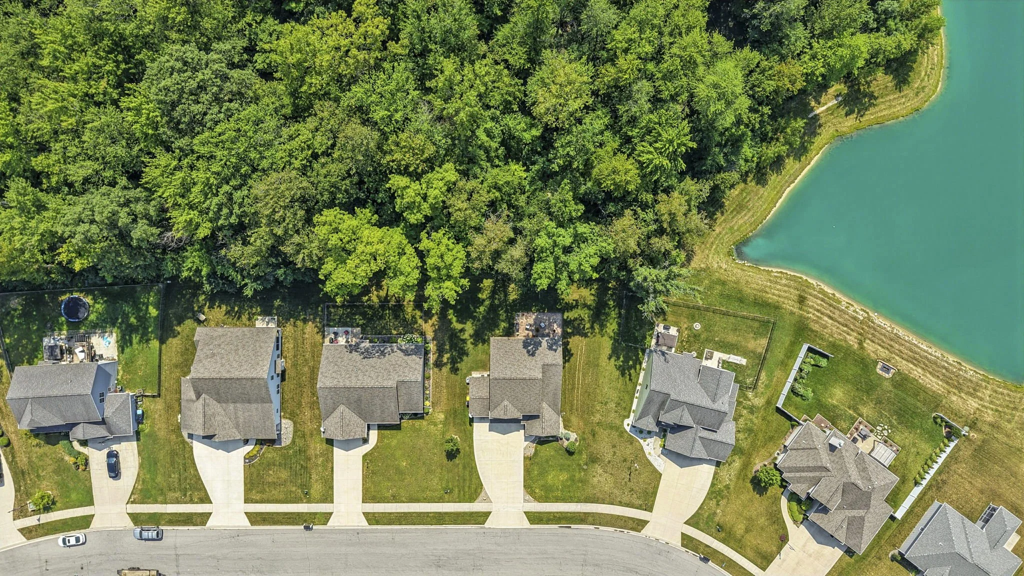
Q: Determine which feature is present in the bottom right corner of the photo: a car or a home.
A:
home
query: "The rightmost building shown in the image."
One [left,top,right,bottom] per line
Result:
[899,501,1023,576]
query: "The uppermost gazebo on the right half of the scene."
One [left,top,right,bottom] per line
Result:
[654,332,677,348]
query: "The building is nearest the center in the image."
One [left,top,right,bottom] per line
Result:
[469,337,562,437]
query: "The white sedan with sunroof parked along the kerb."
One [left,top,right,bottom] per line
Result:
[59,532,89,548]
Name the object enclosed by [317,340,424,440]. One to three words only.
house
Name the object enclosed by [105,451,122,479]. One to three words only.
car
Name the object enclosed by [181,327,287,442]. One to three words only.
house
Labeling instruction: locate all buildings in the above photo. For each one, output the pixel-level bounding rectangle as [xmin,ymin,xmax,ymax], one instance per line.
[774,420,900,556]
[317,340,424,440]
[632,350,740,462]
[6,361,139,441]
[469,337,562,437]
[181,327,287,442]
[899,501,1023,576]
